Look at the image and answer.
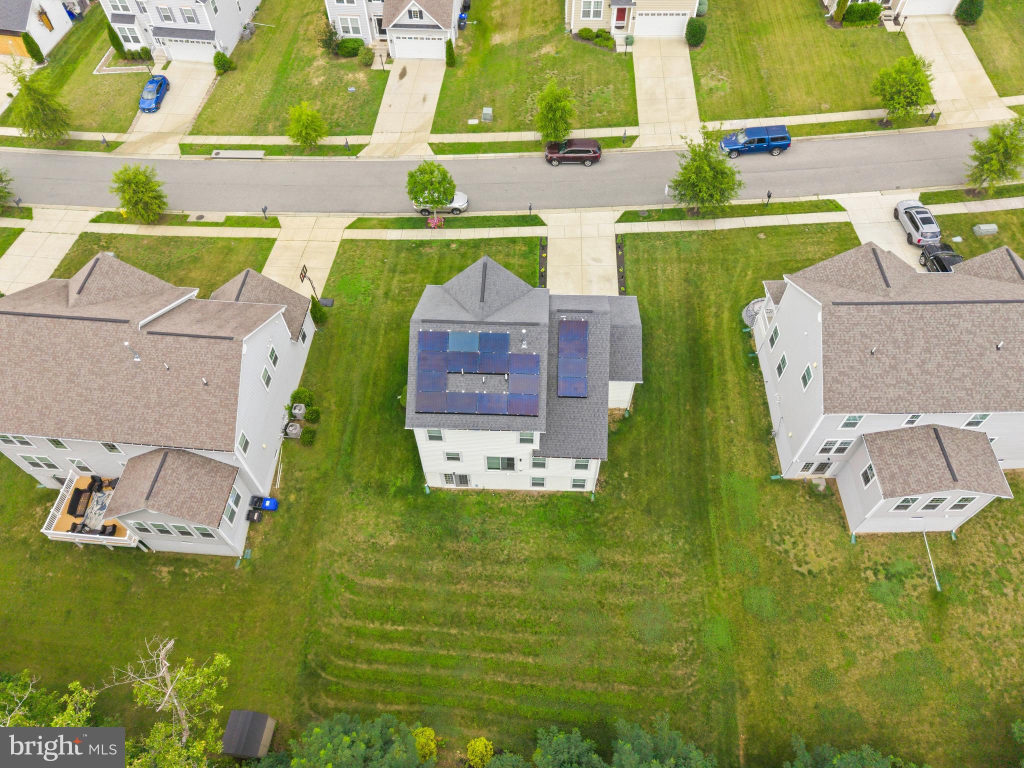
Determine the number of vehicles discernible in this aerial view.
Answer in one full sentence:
The photo contains 6 vehicles.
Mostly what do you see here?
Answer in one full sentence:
For the most part, this view shows grass.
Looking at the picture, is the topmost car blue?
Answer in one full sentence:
Yes, the topmost car is indeed blue.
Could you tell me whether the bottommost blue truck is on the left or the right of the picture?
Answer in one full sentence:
The bottommost blue truck sits on the right side.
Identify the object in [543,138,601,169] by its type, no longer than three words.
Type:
car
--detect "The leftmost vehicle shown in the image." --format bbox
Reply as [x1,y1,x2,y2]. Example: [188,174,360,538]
[137,76,172,112]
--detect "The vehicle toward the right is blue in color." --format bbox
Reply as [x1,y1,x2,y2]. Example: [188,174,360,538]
[717,126,791,161]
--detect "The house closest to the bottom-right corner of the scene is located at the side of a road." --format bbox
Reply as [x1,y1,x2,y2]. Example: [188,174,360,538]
[747,239,1024,535]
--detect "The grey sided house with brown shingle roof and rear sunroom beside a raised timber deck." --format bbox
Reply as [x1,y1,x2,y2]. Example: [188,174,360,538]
[0,252,316,560]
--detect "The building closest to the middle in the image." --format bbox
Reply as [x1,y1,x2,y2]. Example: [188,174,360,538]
[406,255,641,493]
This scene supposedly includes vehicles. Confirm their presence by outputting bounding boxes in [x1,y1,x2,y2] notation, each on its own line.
[137,76,172,112]
[914,245,958,271]
[717,126,791,161]
[892,200,943,250]
[543,138,601,169]
[412,193,469,217]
